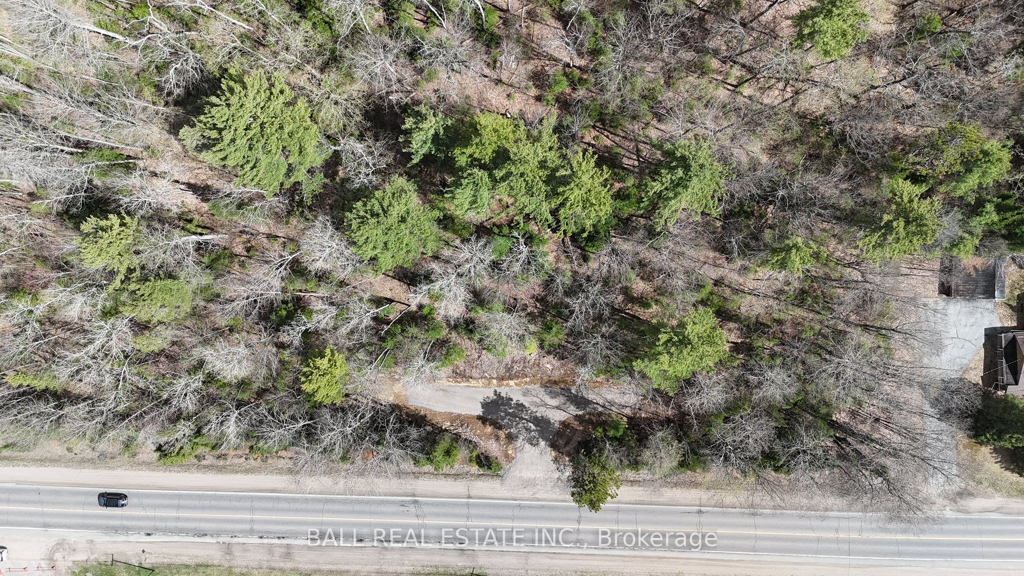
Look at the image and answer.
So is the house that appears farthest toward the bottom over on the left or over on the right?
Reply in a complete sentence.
It is on the right.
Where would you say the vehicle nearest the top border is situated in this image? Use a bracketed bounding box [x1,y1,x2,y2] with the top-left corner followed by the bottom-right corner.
[97,493,125,508]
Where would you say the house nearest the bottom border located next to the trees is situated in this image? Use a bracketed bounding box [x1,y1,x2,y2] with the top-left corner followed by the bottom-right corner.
[985,331,1024,396]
